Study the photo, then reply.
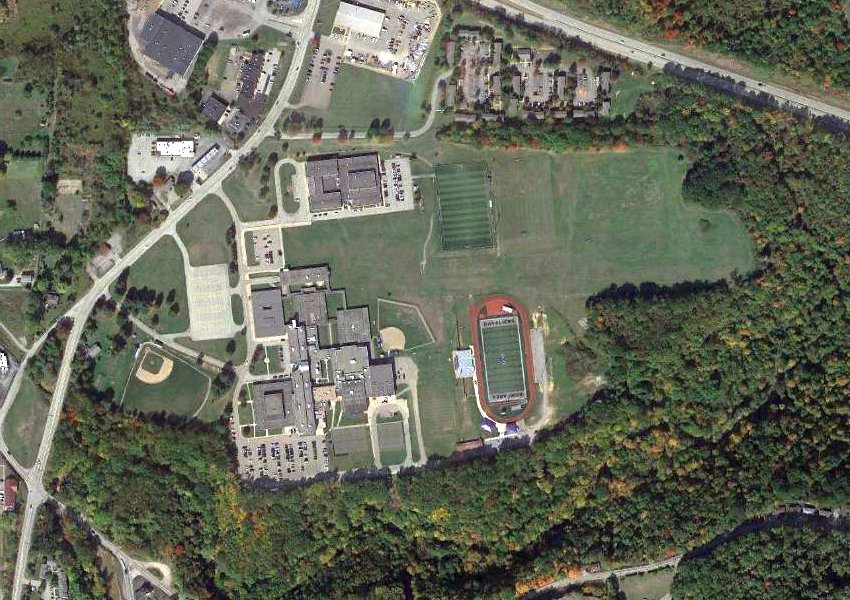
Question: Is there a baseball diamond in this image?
Yes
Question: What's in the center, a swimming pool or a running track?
running track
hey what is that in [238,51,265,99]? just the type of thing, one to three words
building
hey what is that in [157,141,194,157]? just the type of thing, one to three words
building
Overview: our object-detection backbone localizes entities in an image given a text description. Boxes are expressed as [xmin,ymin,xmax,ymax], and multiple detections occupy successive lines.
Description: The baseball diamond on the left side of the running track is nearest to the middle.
[378,299,435,352]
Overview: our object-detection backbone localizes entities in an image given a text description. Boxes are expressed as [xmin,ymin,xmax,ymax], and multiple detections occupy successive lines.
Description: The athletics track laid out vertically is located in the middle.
[471,295,534,422]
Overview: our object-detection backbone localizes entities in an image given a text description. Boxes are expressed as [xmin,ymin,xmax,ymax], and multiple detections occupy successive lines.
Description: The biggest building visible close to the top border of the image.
[140,12,204,77]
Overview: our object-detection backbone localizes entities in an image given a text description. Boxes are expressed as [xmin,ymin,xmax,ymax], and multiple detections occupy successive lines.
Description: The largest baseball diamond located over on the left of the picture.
[120,341,212,417]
